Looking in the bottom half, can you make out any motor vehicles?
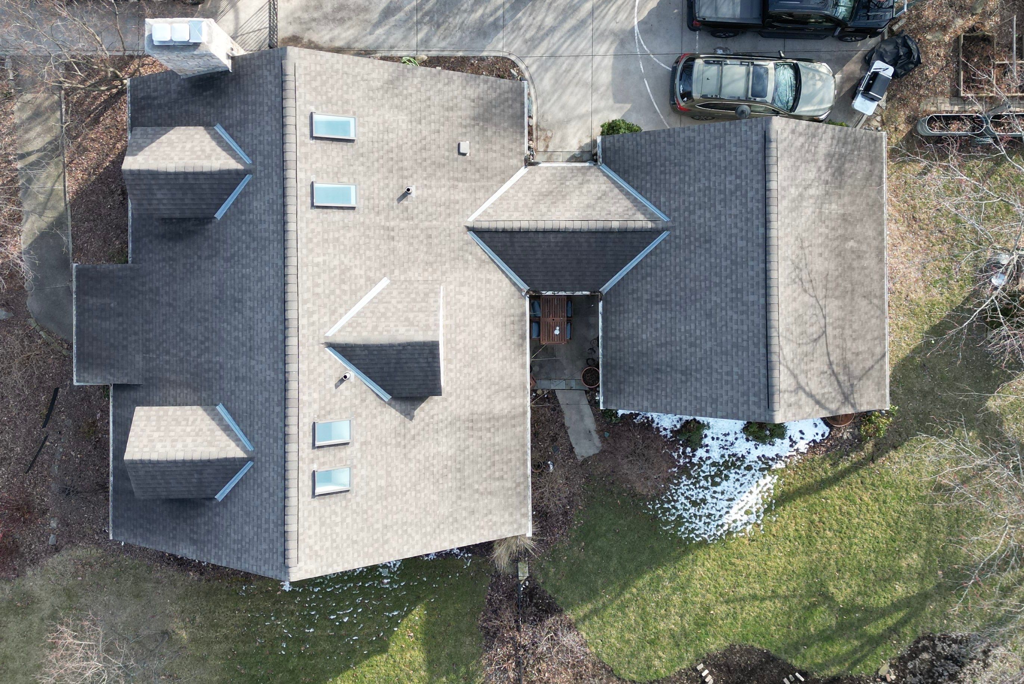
No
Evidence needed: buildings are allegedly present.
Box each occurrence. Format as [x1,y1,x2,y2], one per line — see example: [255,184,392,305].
[71,17,894,582]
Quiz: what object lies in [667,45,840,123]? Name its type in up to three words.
car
